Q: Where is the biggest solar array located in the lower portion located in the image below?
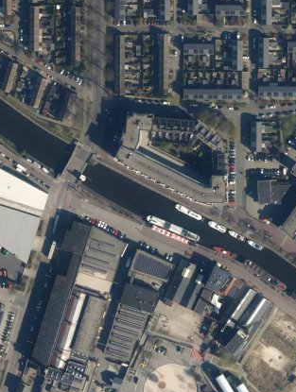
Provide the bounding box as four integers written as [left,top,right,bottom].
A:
[134,257,170,277]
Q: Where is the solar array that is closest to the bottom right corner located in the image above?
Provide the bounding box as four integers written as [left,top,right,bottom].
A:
[208,268,226,289]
